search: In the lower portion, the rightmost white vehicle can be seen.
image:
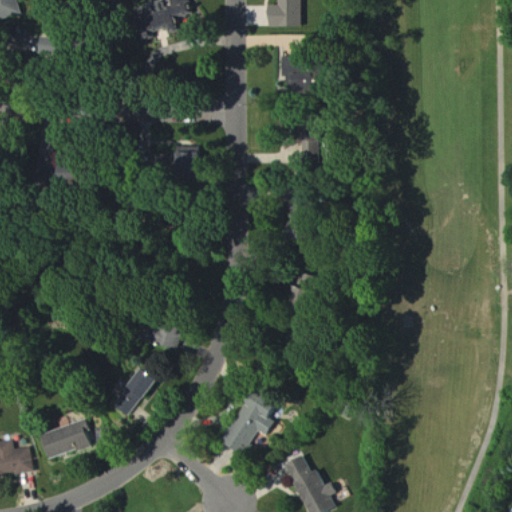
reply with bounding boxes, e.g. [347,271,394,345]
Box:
[177,461,198,483]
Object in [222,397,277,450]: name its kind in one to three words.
house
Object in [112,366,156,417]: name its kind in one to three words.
house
